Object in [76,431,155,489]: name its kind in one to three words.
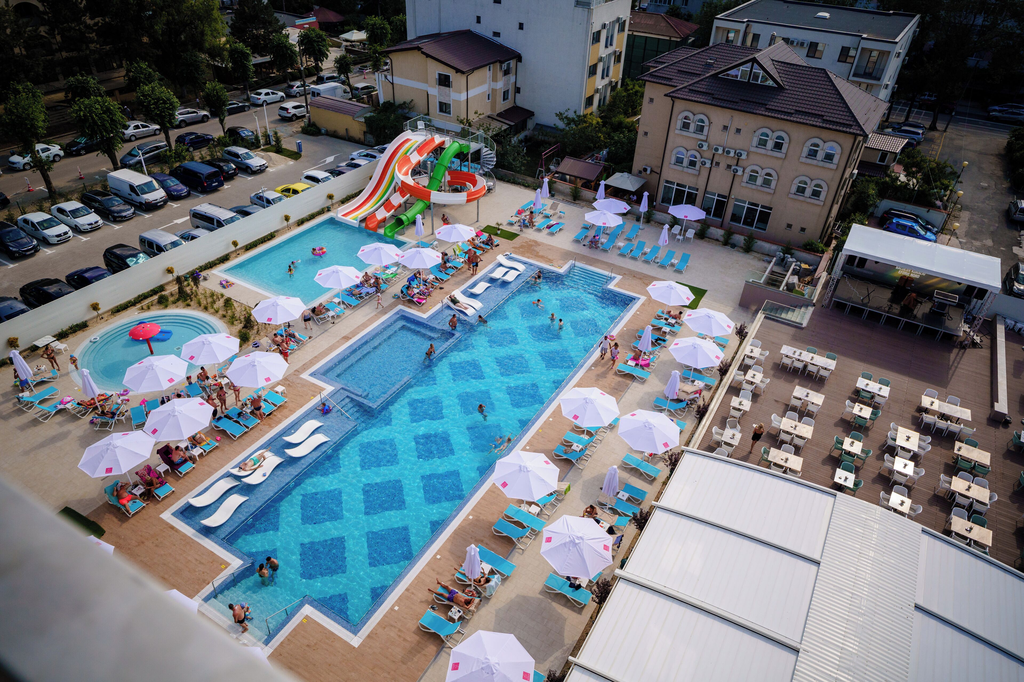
umbrella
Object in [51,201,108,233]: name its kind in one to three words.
car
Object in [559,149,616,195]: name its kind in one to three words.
shed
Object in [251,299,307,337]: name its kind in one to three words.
umbrella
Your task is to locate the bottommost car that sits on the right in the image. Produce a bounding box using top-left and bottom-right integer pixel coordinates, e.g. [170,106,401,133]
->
[1001,262,1024,296]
